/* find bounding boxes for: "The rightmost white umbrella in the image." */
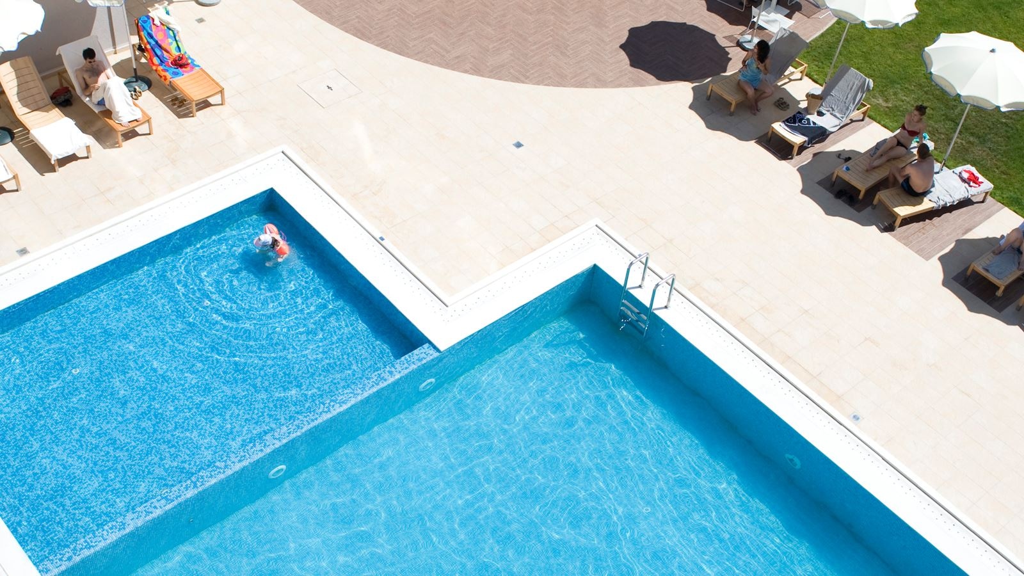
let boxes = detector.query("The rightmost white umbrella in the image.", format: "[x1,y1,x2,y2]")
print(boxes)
[914,31,1024,174]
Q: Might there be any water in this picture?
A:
Yes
